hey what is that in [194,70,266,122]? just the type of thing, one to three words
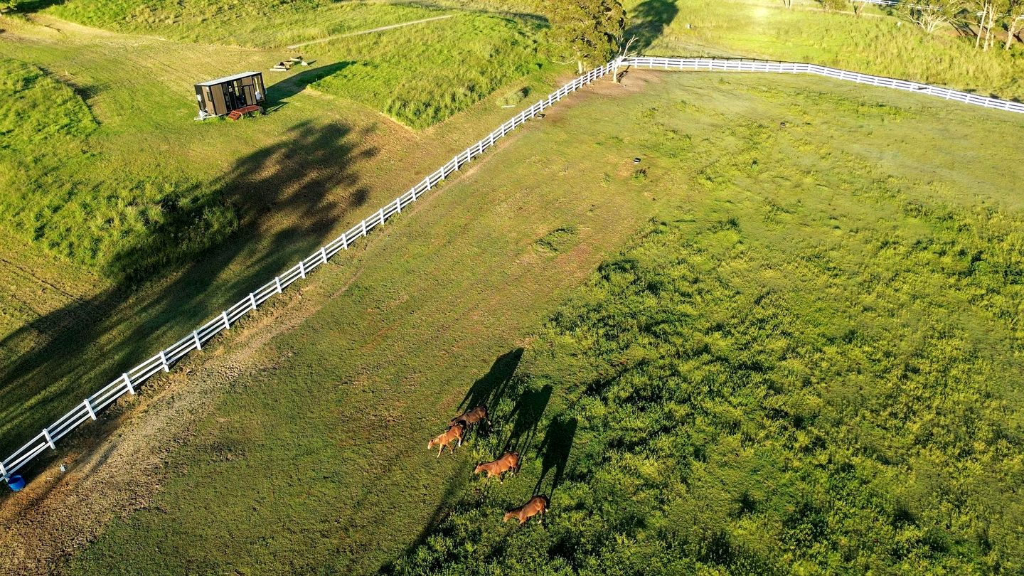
house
